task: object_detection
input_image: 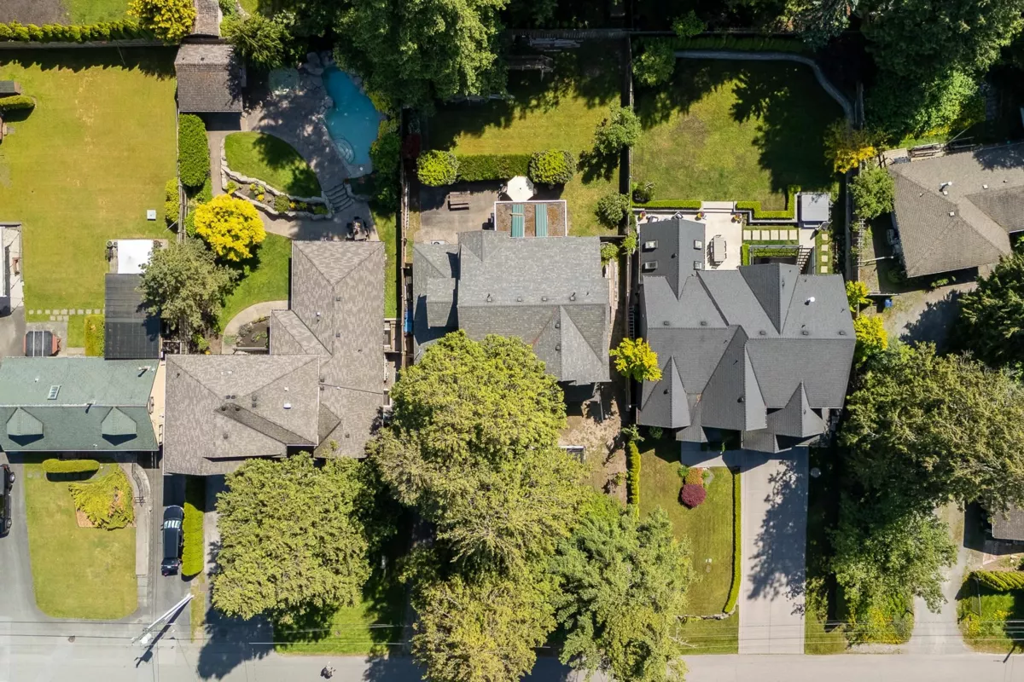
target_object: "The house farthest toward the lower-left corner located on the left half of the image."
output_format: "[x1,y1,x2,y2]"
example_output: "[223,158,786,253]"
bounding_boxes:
[0,357,164,452]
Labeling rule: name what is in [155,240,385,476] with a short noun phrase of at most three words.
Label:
house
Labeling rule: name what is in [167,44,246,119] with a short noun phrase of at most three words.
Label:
shed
